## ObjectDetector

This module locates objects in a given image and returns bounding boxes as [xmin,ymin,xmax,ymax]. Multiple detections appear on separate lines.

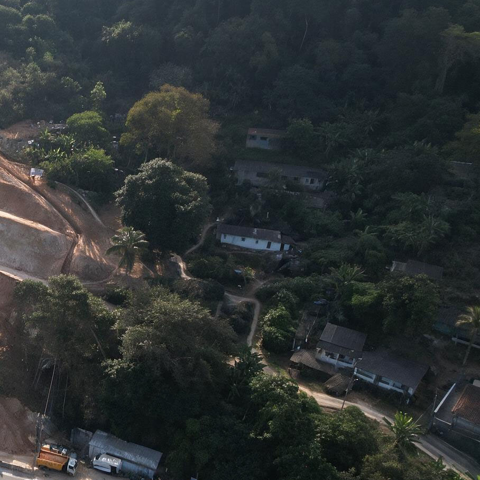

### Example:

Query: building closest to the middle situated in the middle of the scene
[217,224,287,252]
